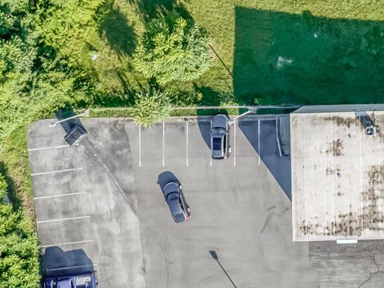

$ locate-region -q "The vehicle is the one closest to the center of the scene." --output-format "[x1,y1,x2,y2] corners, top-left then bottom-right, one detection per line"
[209,115,231,160]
